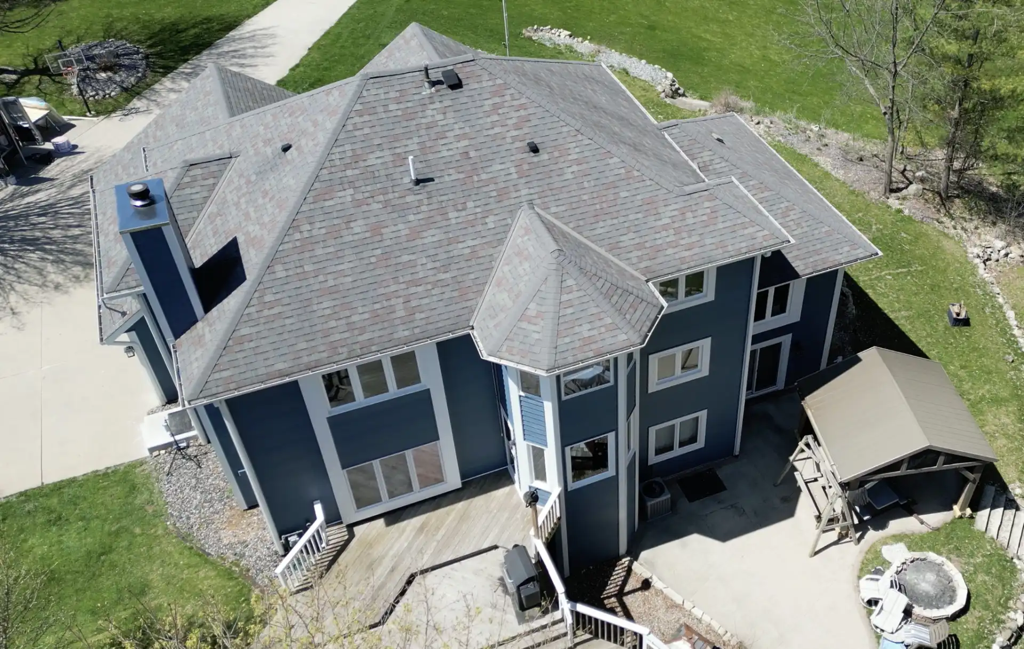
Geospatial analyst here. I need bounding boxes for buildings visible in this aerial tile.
[795,353,997,538]
[84,21,880,580]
